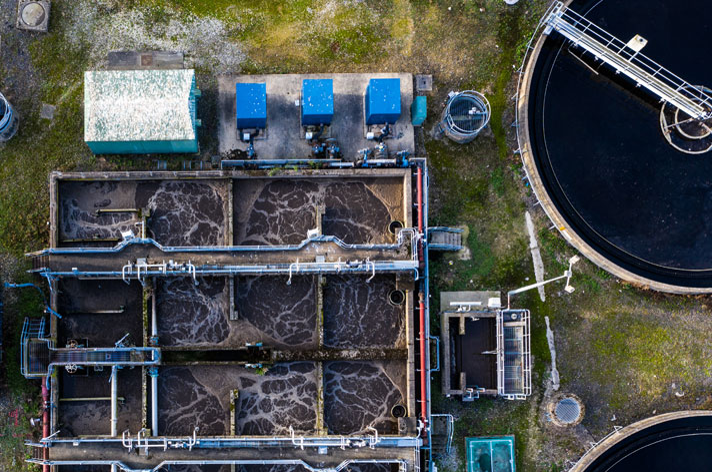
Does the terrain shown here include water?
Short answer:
Yes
